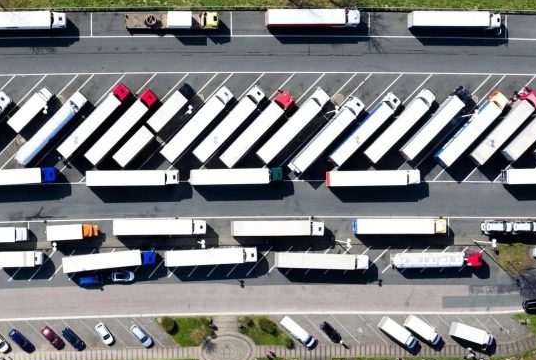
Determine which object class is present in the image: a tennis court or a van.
van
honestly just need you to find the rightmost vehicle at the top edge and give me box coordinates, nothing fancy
[406,11,501,30]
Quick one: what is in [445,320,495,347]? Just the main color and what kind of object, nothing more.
white vehicle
